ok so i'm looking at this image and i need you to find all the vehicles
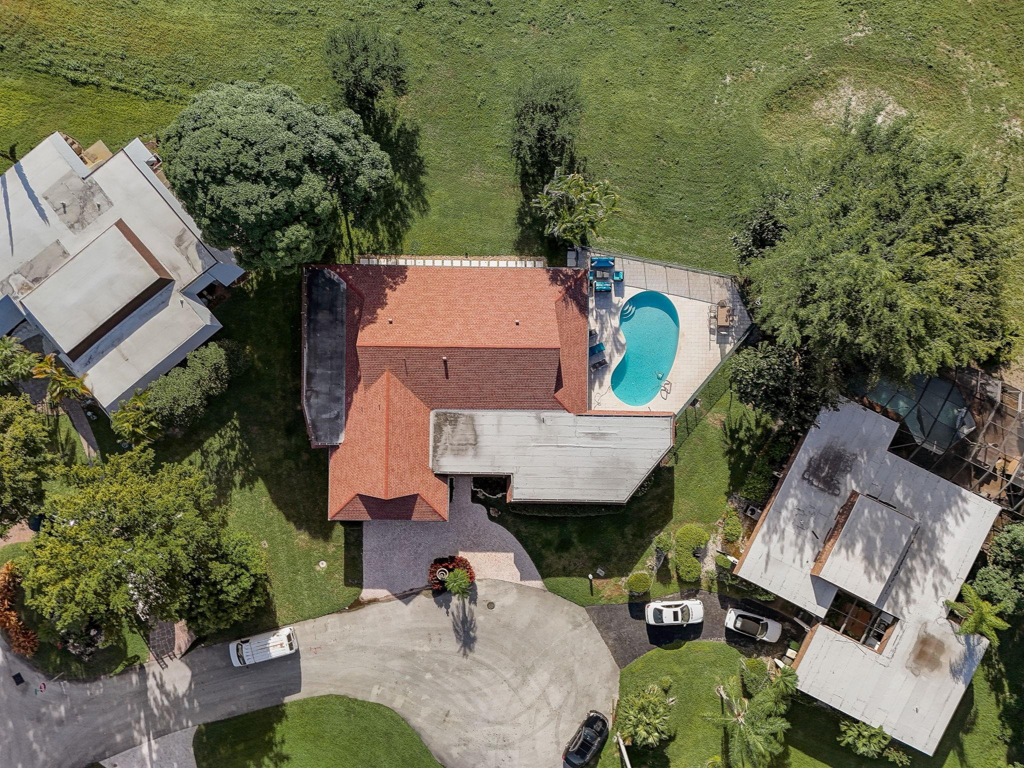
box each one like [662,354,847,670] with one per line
[230,625,302,669]
[644,599,703,628]
[724,605,782,644]
[562,709,607,768]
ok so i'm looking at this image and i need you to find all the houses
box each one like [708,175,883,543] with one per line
[732,395,1001,756]
[301,266,676,522]
[0,132,238,422]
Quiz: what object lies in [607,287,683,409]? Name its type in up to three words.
swimming pool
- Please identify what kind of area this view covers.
residential area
